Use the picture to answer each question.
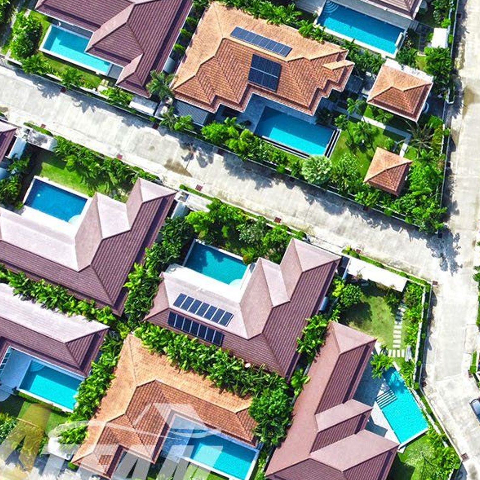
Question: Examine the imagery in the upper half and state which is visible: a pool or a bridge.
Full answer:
The one visible in the upper half is a pool.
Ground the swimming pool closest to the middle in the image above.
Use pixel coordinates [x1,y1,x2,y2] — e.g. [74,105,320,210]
[180,238,253,288]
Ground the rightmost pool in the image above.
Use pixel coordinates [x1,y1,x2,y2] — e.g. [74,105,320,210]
[377,363,426,447]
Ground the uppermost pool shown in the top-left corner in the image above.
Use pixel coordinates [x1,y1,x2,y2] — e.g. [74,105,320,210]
[38,21,115,79]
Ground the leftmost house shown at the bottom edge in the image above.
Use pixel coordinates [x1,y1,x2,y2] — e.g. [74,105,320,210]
[72,330,276,480]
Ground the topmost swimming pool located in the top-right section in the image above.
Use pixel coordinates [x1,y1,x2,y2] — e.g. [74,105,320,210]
[313,0,410,59]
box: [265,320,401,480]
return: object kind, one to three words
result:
house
